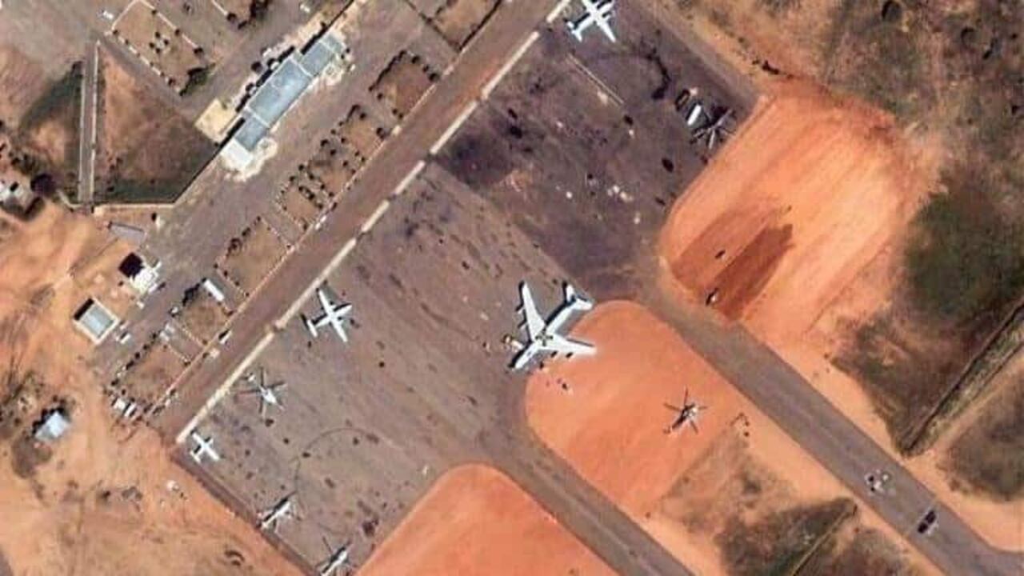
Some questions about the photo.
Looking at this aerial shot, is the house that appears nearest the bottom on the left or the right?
left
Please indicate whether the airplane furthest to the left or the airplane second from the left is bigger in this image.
the airplane second from the left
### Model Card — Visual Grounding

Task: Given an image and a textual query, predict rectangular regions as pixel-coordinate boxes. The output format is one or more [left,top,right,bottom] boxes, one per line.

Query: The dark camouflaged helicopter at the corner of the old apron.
[694,110,735,148]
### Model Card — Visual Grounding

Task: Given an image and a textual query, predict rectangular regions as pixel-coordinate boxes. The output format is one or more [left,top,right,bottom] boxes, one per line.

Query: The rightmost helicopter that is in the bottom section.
[670,393,710,432]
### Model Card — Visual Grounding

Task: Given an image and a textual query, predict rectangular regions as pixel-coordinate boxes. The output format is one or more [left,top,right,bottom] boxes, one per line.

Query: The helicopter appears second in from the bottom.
[259,492,300,531]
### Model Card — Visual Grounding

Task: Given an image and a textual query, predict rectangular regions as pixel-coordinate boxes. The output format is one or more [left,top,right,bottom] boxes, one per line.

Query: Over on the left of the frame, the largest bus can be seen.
[203,280,223,301]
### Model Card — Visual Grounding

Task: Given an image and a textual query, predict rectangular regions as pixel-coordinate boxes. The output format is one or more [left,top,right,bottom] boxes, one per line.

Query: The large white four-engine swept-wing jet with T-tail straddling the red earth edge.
[514,282,599,370]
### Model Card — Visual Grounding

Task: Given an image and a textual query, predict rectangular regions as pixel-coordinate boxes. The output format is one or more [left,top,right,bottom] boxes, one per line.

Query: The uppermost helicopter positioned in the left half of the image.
[243,372,285,414]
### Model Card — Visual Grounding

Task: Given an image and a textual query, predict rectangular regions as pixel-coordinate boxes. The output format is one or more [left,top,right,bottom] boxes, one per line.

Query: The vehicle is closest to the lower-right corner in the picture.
[922,511,937,532]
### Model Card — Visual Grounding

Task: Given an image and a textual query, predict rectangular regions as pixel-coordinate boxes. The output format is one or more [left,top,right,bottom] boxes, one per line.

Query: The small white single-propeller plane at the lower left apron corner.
[190,433,218,462]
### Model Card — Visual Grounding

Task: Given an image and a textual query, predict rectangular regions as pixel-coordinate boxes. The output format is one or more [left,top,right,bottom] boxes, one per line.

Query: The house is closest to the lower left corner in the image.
[35,412,70,443]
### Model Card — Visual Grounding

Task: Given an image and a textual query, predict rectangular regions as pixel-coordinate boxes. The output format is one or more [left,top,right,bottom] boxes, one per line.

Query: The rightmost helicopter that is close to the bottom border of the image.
[318,542,358,576]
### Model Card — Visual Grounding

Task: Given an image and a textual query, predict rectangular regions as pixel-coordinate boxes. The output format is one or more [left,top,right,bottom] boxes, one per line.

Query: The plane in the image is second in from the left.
[309,291,352,341]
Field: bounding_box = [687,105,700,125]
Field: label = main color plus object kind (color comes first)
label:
white vehicle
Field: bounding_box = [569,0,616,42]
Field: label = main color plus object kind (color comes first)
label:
white airplane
